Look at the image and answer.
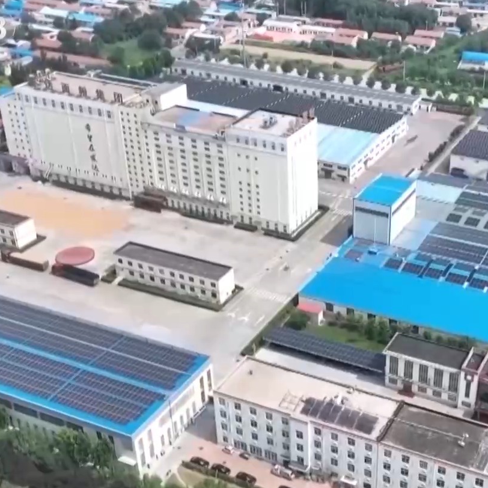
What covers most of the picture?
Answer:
buildings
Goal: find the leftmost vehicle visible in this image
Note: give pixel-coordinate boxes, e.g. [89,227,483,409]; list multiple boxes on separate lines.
[0,250,48,273]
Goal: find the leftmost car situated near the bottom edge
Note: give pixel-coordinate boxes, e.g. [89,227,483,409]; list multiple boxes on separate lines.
[187,452,212,467]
